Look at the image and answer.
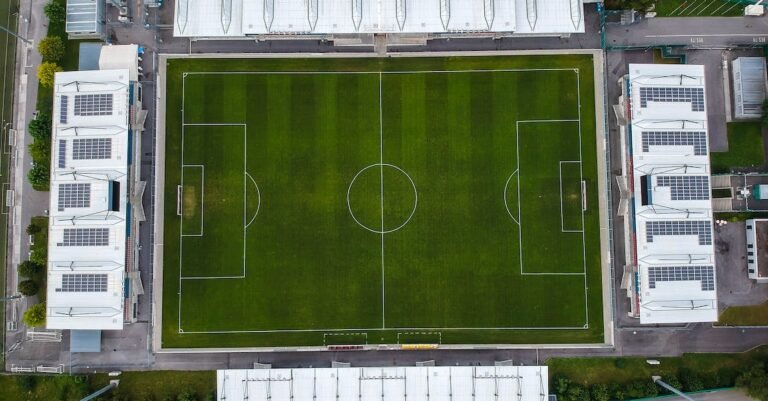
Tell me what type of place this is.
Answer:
sports ground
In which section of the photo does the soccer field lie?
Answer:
center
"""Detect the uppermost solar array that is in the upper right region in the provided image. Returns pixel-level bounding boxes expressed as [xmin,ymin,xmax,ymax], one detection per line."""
[640,88,704,111]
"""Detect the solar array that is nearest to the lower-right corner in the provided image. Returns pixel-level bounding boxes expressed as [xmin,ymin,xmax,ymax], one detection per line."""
[649,266,715,290]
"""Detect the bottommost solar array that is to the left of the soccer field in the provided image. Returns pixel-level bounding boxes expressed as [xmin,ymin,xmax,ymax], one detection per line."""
[55,274,106,292]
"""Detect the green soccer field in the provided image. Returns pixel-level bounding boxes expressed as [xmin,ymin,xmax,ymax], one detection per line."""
[161,55,604,349]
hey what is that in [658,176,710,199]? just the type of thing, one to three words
solar array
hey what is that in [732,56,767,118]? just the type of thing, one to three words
shed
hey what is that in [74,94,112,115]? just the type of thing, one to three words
solar array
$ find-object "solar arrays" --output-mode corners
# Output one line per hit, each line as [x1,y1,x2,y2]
[649,266,715,290]
[658,176,710,199]
[58,184,90,211]
[60,96,67,124]
[58,139,65,168]
[73,138,111,160]
[57,229,109,246]
[74,94,112,115]
[643,132,706,155]
[55,274,106,292]
[646,221,712,244]
[640,88,704,111]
